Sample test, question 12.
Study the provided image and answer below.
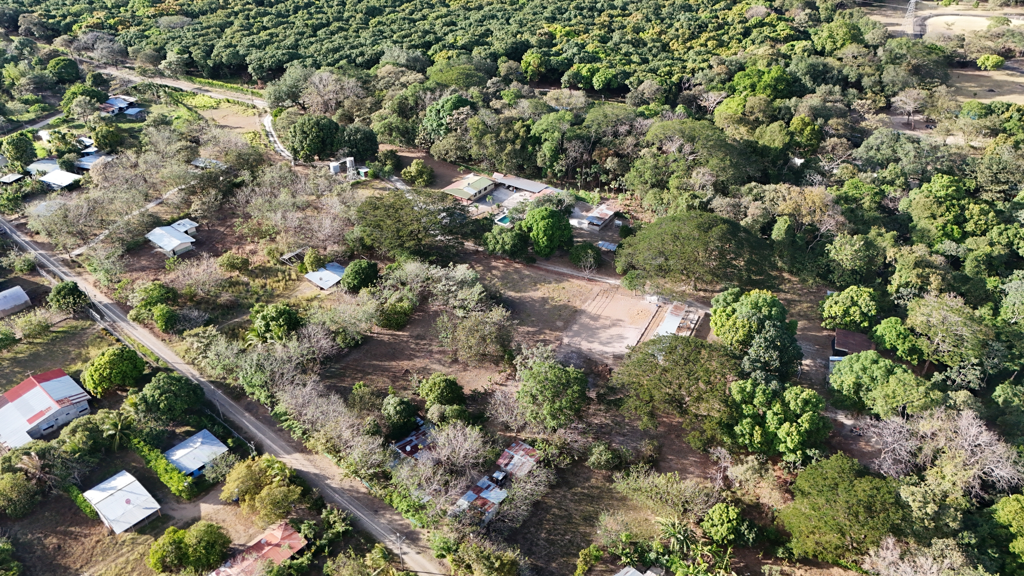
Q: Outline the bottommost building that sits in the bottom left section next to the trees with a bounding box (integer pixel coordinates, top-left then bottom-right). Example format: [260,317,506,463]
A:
[214,522,307,576]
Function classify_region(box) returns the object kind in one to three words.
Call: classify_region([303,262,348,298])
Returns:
shed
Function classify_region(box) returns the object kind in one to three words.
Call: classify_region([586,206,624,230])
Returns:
shed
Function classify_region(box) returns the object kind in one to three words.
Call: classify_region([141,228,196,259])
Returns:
house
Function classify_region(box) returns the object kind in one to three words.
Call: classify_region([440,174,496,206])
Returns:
building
